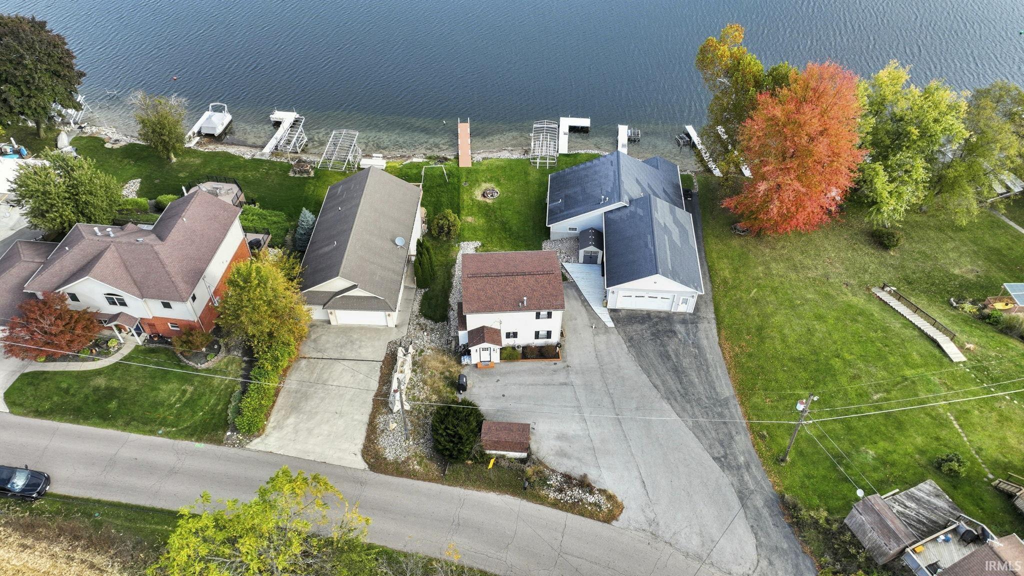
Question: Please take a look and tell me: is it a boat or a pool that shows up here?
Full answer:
Of the two, only a boat appears.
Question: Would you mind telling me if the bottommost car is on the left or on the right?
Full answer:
You can find the bottommost car on the left side of the picture.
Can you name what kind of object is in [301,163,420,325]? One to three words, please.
house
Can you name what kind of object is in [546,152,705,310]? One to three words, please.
house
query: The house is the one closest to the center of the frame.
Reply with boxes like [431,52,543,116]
[457,248,566,370]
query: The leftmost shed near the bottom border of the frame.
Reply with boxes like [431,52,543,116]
[843,494,917,565]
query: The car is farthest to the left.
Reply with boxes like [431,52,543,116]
[0,466,55,497]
